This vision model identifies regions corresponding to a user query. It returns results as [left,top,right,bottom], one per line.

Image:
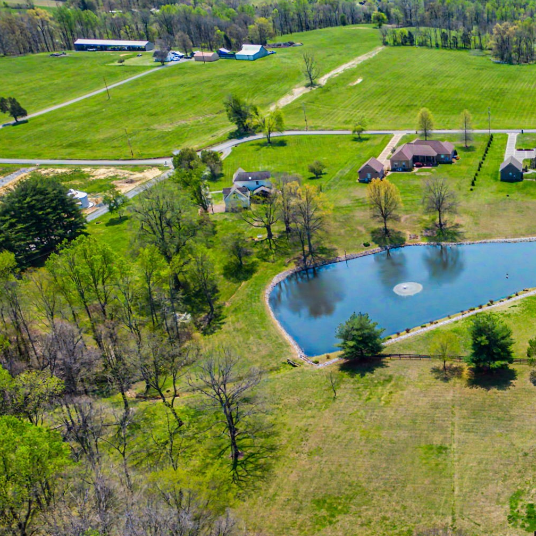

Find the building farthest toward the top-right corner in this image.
[498,153,525,181]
